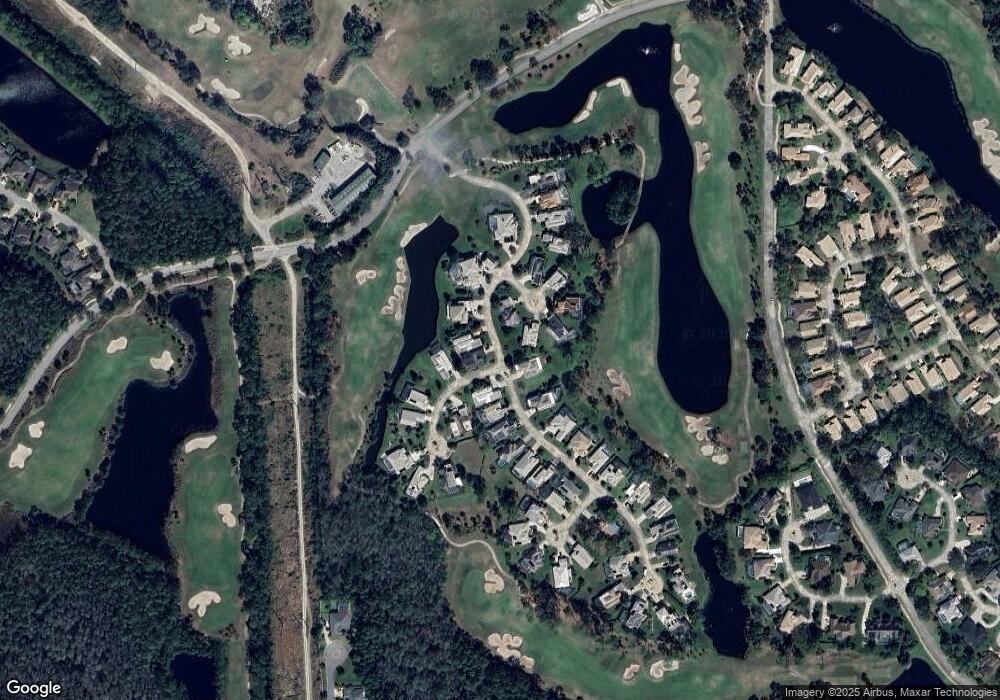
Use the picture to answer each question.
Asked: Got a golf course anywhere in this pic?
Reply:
Yes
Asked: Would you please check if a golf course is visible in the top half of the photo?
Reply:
Yes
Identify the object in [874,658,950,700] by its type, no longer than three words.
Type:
pond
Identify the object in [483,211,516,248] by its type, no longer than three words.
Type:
house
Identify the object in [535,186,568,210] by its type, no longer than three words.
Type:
house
